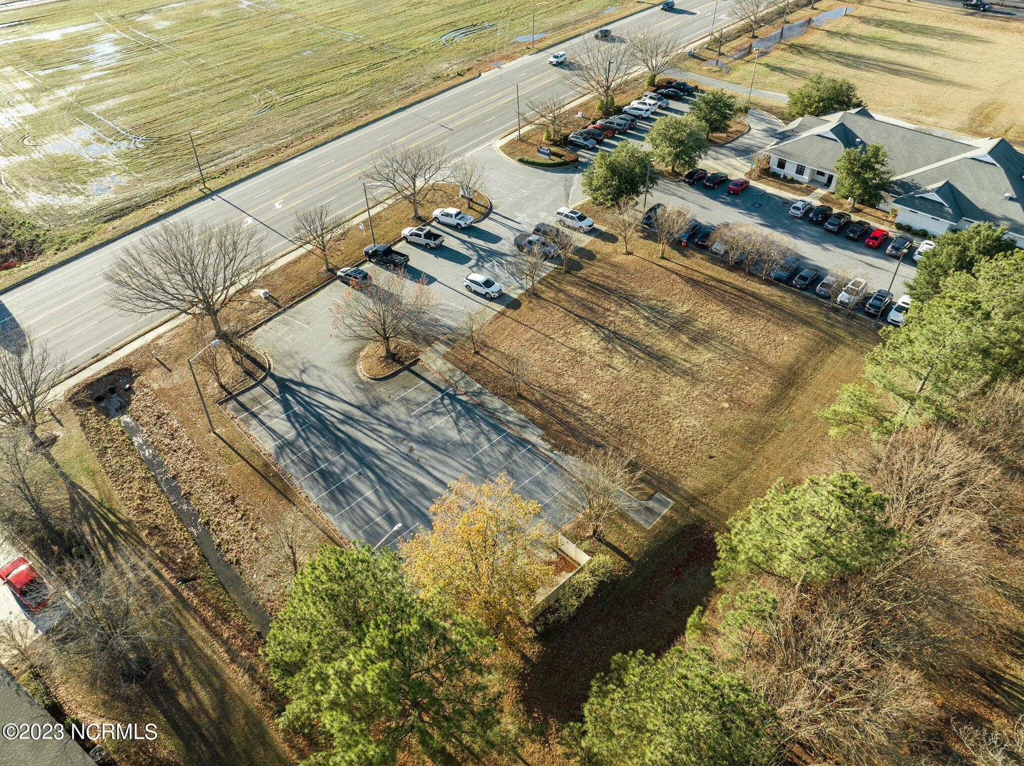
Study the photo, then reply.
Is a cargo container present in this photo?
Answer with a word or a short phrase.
No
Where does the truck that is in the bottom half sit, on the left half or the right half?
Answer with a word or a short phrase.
left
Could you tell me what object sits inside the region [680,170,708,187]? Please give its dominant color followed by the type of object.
black car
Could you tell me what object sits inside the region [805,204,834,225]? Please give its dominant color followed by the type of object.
black car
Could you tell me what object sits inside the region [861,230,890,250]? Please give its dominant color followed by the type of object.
red car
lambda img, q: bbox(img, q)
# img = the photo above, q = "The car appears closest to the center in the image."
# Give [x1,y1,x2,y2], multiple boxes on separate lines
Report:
[463,273,504,298]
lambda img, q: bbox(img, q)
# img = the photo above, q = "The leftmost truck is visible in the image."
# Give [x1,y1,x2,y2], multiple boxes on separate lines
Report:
[0,557,60,617]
